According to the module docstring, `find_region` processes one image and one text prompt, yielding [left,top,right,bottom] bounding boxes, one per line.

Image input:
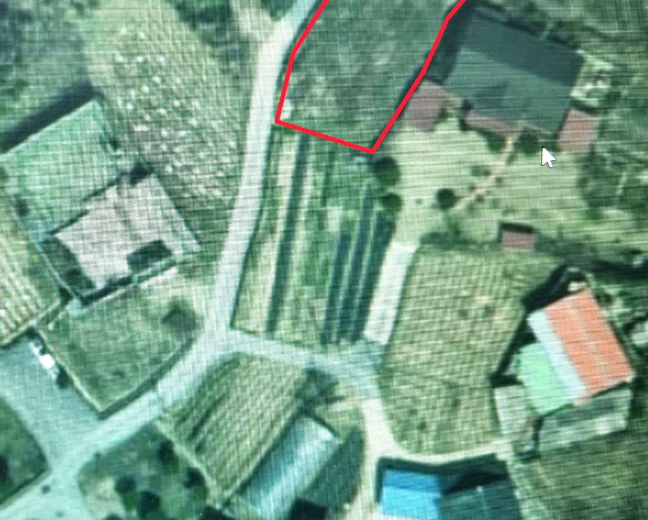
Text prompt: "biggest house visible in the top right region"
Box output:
[446,17,583,137]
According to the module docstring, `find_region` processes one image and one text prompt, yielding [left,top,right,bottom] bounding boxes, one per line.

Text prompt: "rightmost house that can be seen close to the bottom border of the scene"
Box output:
[442,476,521,520]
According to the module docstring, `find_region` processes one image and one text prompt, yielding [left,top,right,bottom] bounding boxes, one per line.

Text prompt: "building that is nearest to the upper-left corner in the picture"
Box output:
[0,100,133,240]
